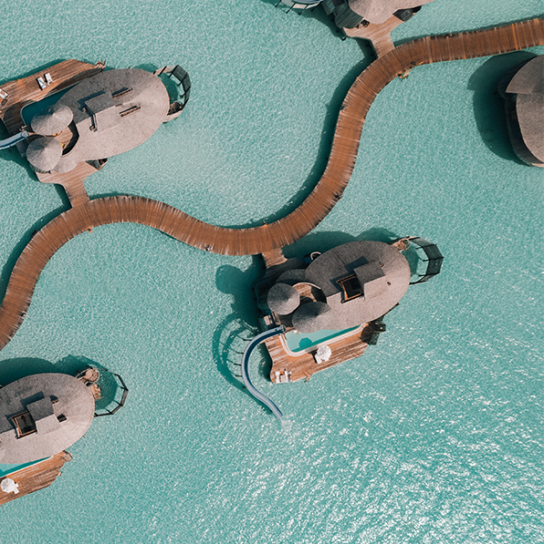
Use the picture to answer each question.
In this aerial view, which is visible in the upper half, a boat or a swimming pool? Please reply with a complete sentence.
You can see a swimming pool in the upper half.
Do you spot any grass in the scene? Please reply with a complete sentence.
No, the picture contains no grass.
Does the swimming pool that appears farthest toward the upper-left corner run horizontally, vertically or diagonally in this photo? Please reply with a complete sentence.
The swimming pool that appears farthest toward the upper-left corner has been laid out diagonally relative to the frame.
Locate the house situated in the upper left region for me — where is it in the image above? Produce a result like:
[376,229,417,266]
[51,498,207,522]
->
[0,61,178,213]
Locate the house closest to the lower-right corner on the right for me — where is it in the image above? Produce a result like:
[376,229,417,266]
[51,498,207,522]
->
[250,242,414,386]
